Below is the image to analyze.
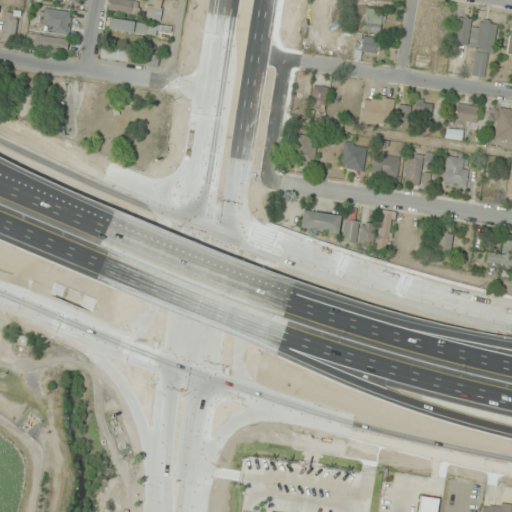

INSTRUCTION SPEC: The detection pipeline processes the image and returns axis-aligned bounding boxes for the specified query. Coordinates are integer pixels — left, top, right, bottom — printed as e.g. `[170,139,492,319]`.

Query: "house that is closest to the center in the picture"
[303,211,342,232]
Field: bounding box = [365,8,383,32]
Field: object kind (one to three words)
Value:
house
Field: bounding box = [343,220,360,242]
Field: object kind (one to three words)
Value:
house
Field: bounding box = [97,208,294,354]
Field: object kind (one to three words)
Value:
overpass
